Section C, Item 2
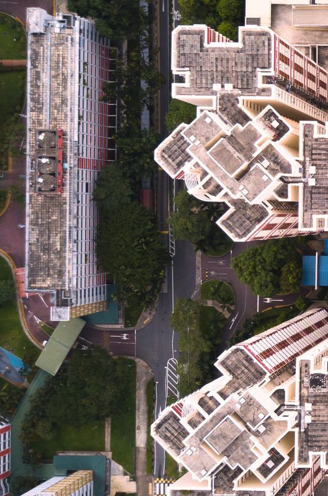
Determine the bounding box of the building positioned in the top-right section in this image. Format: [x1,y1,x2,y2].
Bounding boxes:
[154,25,328,241]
